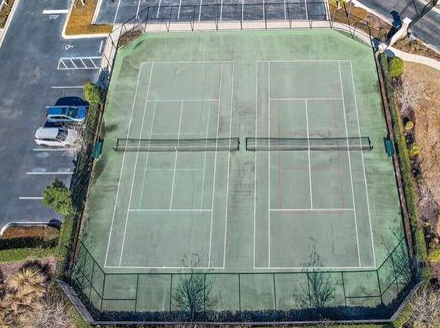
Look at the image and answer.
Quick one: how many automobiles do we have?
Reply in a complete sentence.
Altogether the scene contains 2 automobiles.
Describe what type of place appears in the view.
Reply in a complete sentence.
This image shows a sports ground.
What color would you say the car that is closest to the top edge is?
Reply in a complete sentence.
The color of the car that is closest to the top edge is blue.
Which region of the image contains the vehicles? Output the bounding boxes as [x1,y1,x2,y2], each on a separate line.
[44,102,84,122]
[31,124,79,146]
